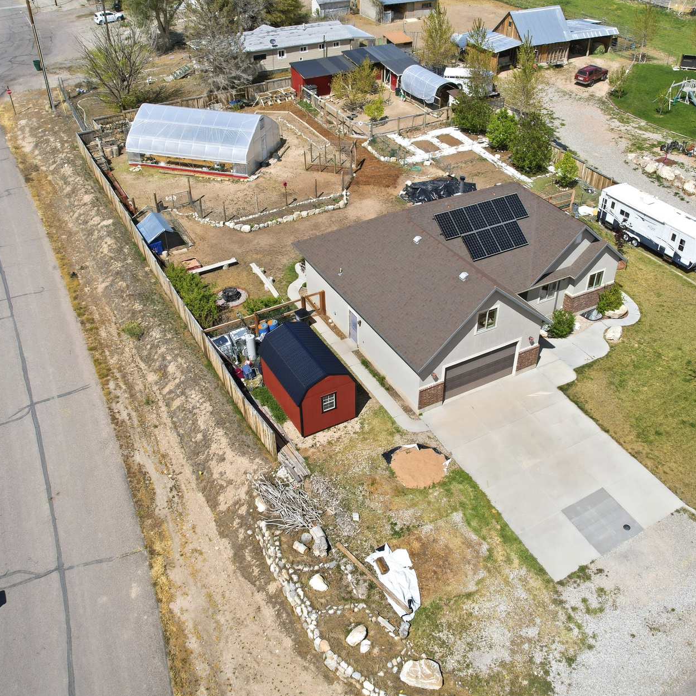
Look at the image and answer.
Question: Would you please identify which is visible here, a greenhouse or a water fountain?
greenhouse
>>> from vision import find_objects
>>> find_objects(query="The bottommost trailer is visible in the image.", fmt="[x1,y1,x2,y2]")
[599,185,696,273]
